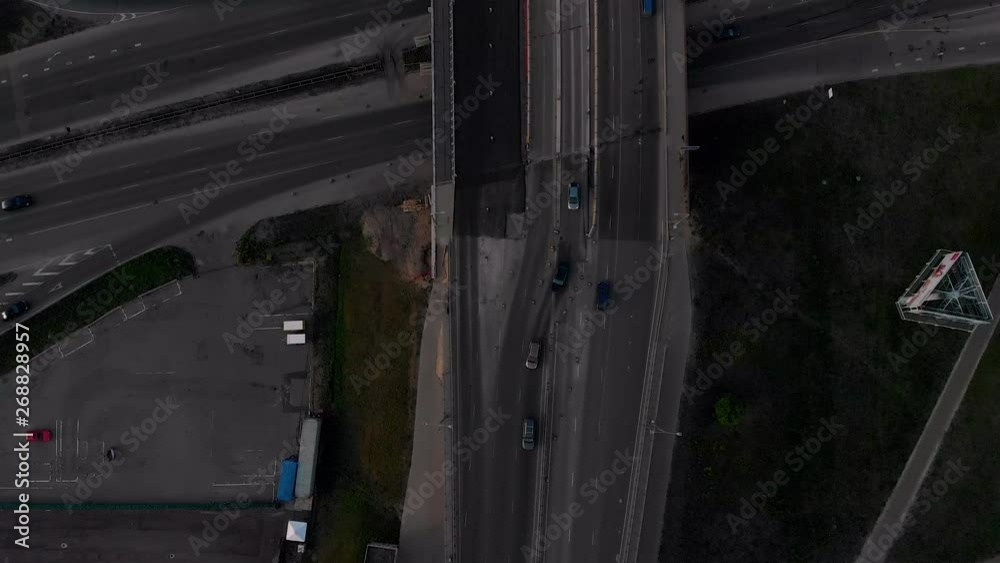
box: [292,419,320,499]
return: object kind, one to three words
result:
trailer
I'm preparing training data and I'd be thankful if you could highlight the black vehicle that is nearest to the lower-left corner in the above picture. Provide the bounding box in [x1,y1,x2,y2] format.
[1,300,30,319]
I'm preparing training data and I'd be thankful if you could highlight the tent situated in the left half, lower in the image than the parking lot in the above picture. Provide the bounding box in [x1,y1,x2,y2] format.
[287,518,311,541]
